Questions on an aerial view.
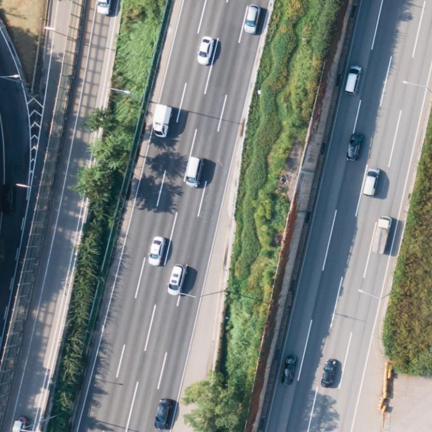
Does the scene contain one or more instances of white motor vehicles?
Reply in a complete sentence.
Yes, the image includes a white motor vehicle.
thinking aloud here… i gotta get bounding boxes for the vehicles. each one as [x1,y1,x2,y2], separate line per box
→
[148,238,165,265]
[95,0,111,15]
[243,3,260,31]
[345,66,360,93]
[198,36,214,64]
[321,359,337,387]
[347,134,362,161]
[149,102,170,137]
[183,158,201,187]
[169,265,186,293]
[363,170,380,197]
[155,399,171,427]
[12,418,27,432]
[374,217,391,253]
